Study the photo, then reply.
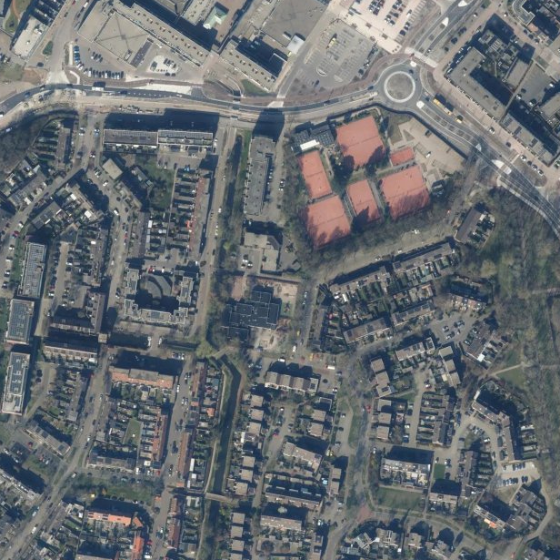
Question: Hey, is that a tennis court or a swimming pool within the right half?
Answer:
tennis court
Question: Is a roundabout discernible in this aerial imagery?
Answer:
Yes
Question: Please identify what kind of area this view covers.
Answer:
residential area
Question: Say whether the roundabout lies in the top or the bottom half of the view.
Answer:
top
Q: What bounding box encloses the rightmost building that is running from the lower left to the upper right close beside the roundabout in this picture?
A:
[443,48,486,76]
